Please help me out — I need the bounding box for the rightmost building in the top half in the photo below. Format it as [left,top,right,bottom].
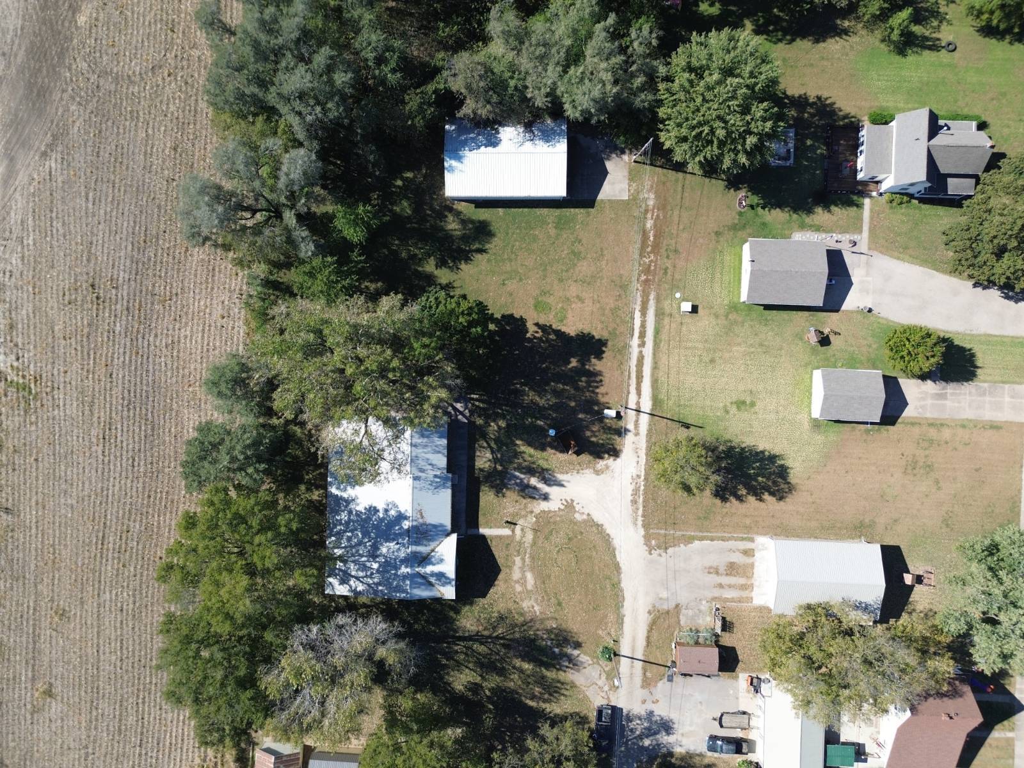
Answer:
[857,108,994,198]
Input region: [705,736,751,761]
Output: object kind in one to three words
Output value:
truck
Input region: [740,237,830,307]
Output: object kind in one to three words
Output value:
building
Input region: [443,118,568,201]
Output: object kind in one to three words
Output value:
barn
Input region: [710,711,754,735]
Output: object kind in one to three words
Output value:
trailer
